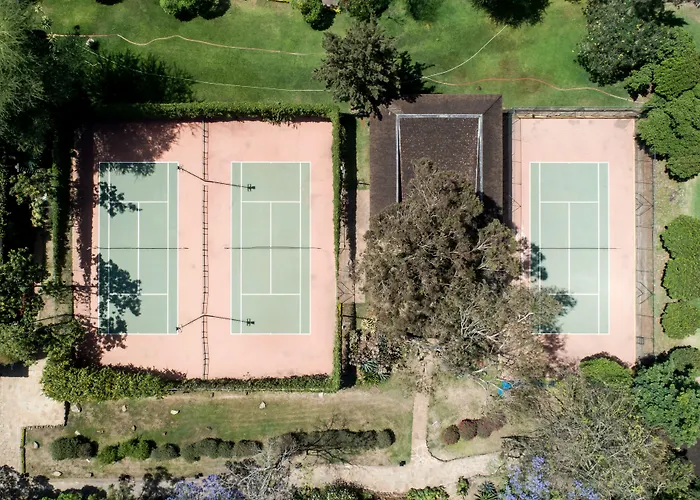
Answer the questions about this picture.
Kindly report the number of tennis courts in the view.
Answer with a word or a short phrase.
three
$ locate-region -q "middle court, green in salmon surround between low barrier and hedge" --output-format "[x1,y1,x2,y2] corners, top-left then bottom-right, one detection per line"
[206,119,336,379]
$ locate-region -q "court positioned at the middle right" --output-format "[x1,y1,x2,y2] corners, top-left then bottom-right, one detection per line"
[512,118,636,364]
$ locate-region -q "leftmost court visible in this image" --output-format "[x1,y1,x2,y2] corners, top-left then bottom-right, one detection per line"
[72,119,206,379]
